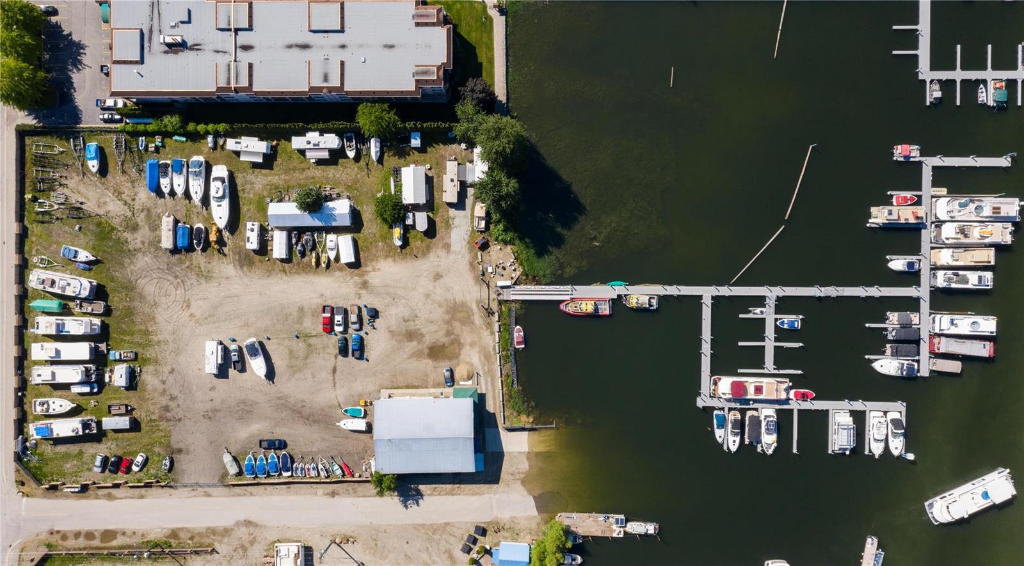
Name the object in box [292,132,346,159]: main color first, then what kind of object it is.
white trailer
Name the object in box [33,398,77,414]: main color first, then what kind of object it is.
white boat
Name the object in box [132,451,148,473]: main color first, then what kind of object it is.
white car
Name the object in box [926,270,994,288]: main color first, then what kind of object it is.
white boat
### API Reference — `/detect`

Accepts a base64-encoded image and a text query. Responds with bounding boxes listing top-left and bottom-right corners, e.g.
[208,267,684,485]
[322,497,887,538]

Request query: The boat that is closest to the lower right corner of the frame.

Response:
[922,468,1018,521]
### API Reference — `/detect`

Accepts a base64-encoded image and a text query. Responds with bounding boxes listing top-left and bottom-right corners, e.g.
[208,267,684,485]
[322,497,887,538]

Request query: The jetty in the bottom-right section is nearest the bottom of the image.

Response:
[696,390,909,459]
